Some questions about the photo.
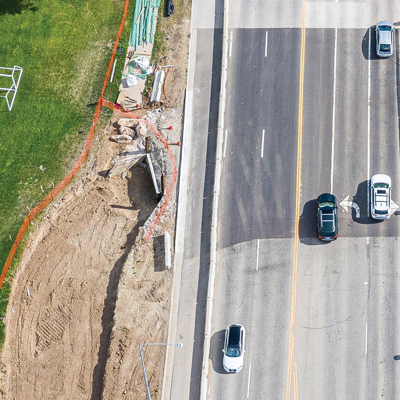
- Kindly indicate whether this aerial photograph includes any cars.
Yes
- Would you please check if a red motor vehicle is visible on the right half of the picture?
No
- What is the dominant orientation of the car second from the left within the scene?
up and down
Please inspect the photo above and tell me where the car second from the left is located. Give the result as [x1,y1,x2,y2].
[314,193,339,243]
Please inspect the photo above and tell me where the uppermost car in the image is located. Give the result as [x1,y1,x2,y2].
[374,21,396,60]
